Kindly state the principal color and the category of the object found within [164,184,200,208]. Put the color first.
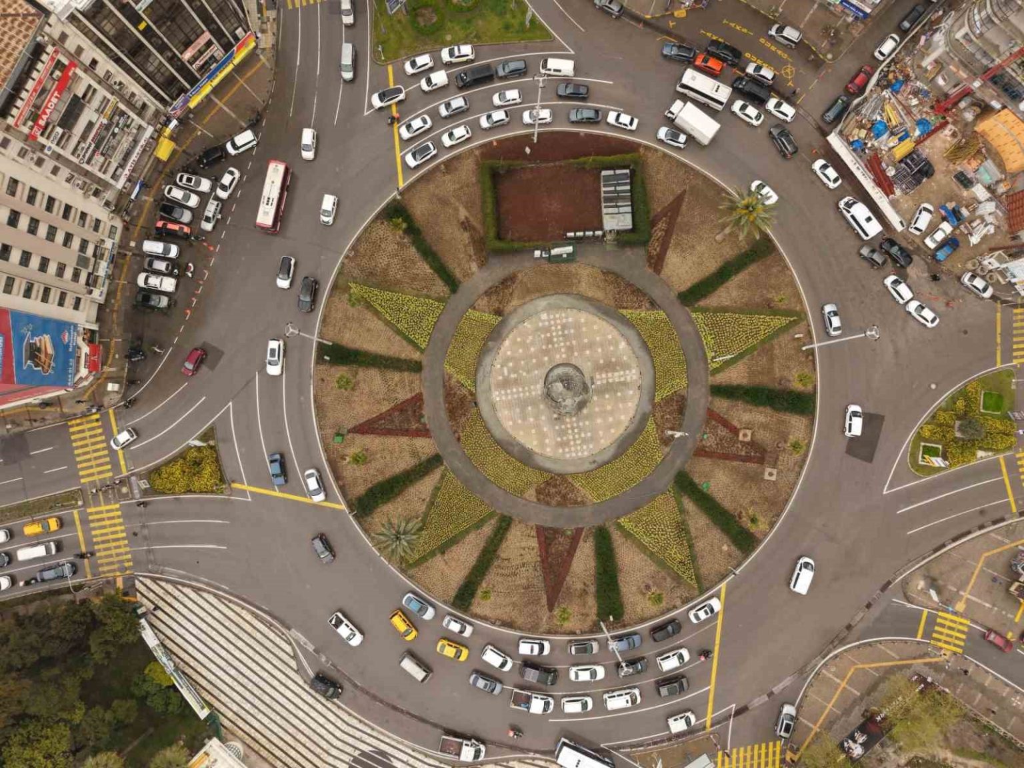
white car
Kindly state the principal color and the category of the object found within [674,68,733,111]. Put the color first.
white bus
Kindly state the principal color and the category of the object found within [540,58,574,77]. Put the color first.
white vehicle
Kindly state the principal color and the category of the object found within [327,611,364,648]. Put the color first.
white truck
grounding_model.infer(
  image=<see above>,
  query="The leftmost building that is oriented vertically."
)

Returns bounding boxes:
[0,122,132,409]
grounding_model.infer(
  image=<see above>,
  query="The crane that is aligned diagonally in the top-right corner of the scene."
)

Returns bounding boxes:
[930,49,1022,118]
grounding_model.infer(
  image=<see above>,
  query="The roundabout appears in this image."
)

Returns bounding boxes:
[313,132,818,637]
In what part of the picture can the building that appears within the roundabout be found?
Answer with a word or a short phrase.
top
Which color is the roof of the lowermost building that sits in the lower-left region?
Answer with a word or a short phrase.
white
